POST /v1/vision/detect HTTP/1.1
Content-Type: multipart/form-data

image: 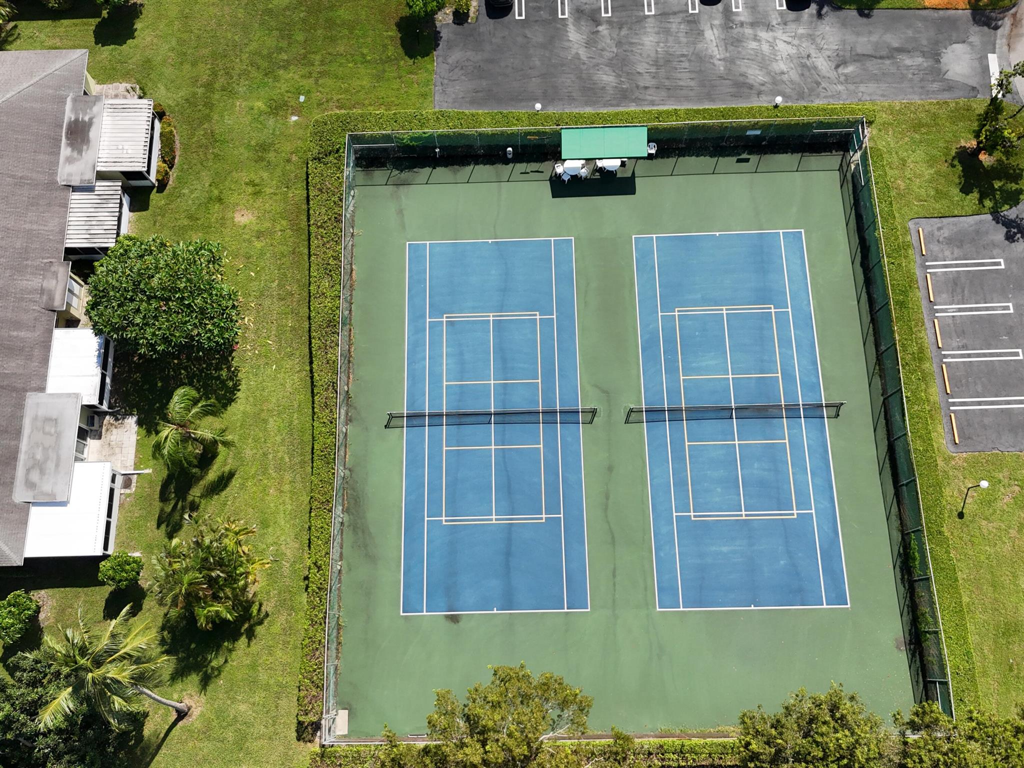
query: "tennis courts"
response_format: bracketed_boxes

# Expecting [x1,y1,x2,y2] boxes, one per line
[633,230,849,610]
[401,237,589,614]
